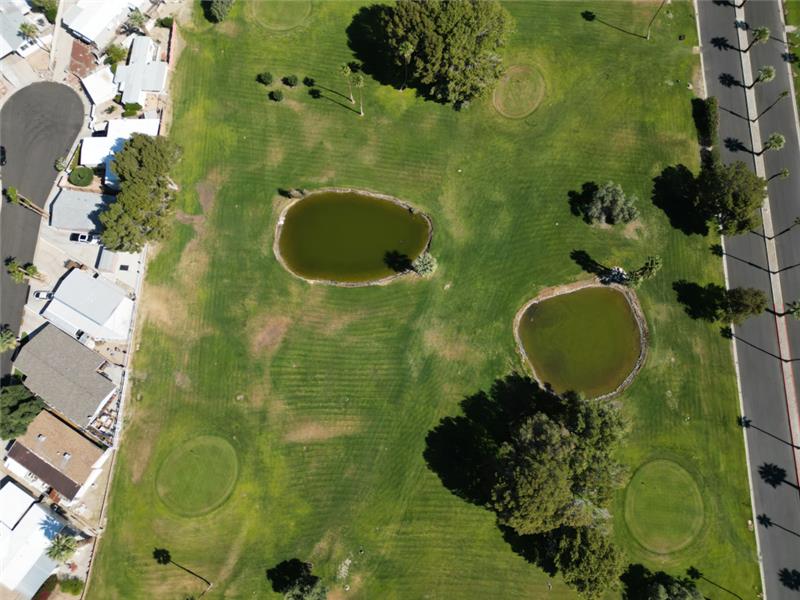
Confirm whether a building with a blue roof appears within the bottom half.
No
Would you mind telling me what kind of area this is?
golf course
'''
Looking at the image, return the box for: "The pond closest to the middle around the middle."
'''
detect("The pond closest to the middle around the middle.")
[276,188,433,286]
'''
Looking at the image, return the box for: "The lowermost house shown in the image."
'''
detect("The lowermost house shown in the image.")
[0,480,69,600]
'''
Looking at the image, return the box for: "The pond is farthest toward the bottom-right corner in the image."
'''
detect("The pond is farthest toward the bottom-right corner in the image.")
[516,282,647,403]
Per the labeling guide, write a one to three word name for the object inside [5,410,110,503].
house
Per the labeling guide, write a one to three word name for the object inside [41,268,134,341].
house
